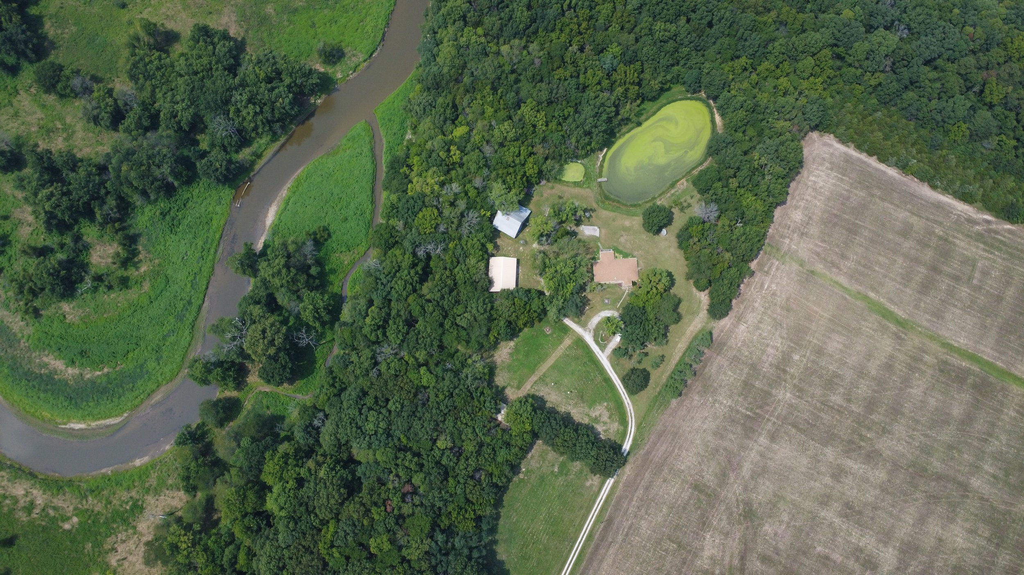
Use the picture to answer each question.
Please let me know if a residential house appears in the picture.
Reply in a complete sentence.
Yes, a residential house can be made out from above.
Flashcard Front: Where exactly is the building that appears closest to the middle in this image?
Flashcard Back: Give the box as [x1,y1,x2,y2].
[488,257,515,292]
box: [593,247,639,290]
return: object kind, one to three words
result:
house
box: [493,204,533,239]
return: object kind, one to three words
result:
barn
